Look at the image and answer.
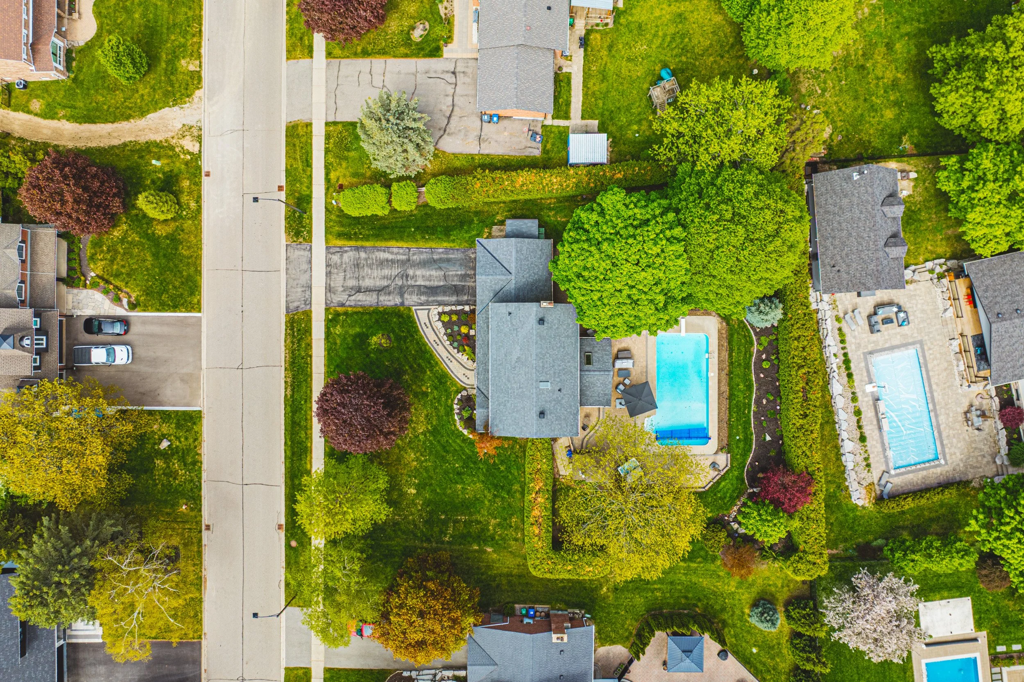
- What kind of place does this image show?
residential area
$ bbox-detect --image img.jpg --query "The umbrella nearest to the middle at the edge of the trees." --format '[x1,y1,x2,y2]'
[616,381,657,417]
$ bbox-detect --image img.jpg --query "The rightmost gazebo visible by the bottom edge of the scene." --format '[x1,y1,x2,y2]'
[663,631,704,673]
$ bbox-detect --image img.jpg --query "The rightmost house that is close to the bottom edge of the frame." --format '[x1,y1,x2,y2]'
[467,609,595,682]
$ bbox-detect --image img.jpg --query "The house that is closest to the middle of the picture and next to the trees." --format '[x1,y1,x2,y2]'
[475,219,613,438]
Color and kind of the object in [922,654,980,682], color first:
blue swimming pool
